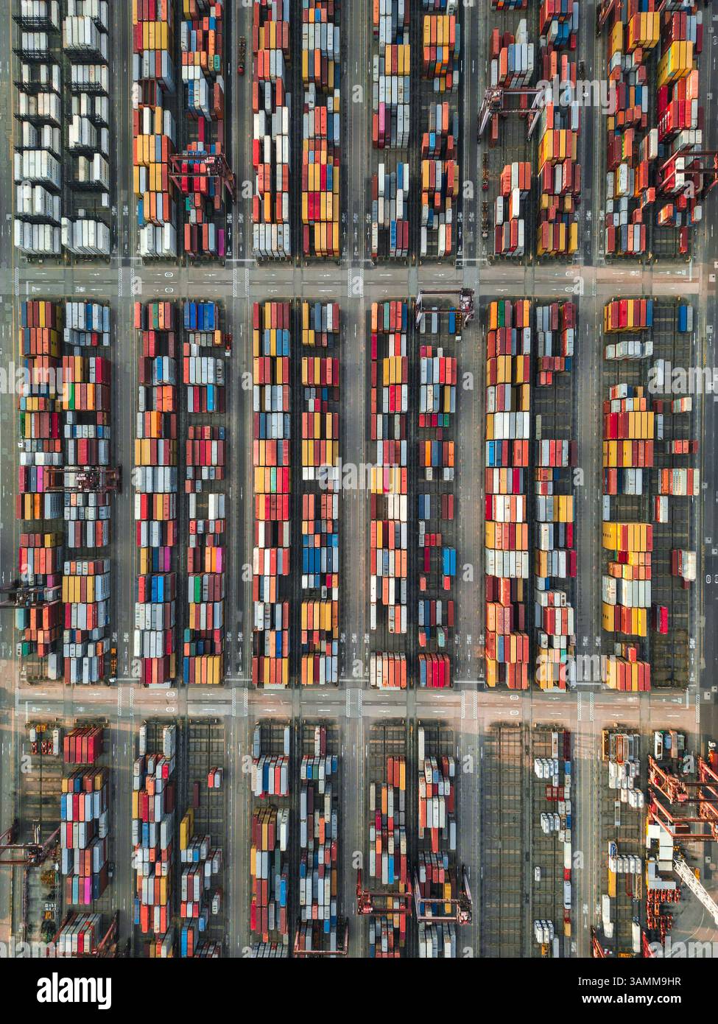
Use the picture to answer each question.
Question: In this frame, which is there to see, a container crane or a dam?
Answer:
container crane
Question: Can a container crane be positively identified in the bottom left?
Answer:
Yes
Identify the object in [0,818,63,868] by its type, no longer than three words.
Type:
container crane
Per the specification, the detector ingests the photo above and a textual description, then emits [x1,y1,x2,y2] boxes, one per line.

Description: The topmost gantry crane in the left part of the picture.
[167,152,237,198]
